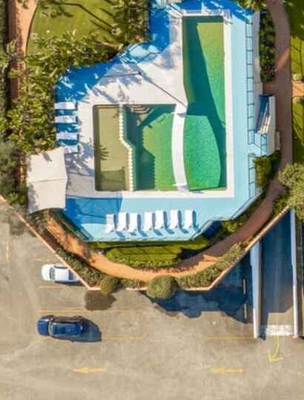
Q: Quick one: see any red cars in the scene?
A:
No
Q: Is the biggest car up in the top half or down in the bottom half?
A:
bottom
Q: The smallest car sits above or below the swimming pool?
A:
below it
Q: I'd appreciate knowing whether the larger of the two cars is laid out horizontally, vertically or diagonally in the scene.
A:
horizontally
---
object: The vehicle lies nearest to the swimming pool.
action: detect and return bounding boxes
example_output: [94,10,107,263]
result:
[41,263,79,284]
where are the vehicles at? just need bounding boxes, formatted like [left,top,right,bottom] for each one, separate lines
[41,312,89,338]
[41,263,79,284]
